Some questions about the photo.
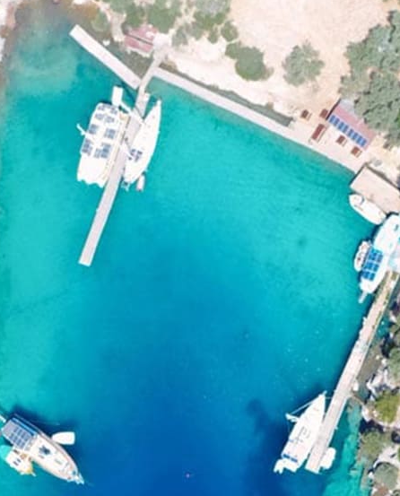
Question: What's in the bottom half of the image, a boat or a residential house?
boat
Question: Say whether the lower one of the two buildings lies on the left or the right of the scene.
right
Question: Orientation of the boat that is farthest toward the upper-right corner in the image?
diagonally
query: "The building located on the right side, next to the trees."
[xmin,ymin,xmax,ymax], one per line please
[327,96,376,148]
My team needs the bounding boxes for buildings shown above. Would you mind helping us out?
[327,96,376,148]
[125,24,159,61]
